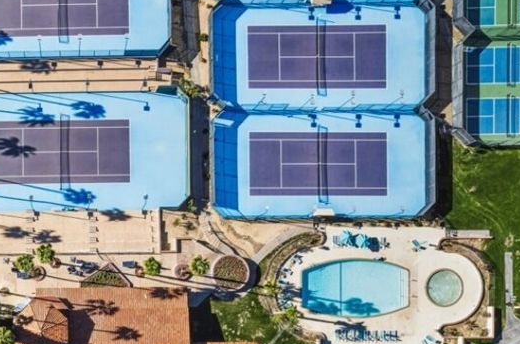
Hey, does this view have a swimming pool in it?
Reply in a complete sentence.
Yes, a swimming pool is visible in the scene.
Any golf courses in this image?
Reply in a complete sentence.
No, the frame has no golf course in it.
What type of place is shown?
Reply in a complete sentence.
The picture captures a sports ground.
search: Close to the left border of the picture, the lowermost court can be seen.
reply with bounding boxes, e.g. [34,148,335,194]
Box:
[0,91,189,208]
